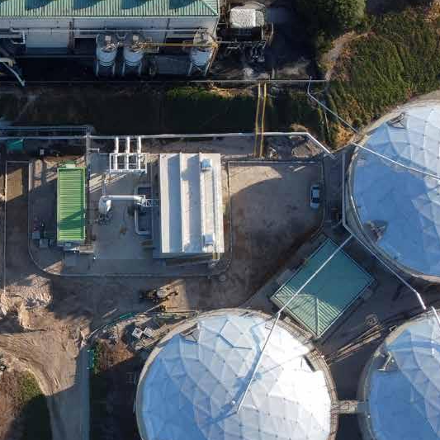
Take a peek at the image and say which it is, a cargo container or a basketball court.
cargo container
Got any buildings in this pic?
Yes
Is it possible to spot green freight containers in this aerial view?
Yes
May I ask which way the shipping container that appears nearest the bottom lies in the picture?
vertically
